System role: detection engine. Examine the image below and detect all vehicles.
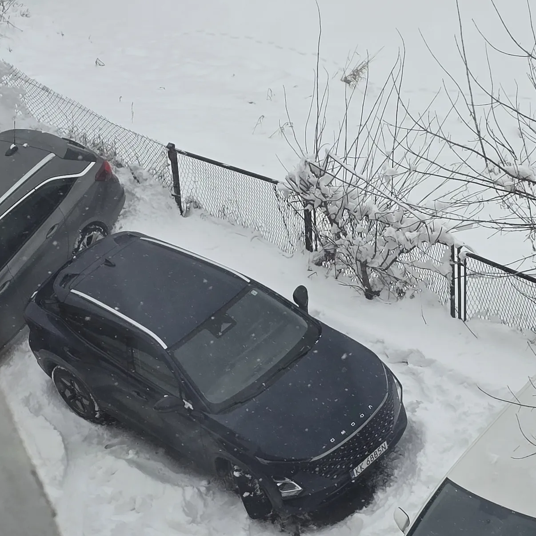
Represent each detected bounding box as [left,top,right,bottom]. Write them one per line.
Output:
[27,232,405,523]
[393,382,536,536]
[0,126,114,345]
